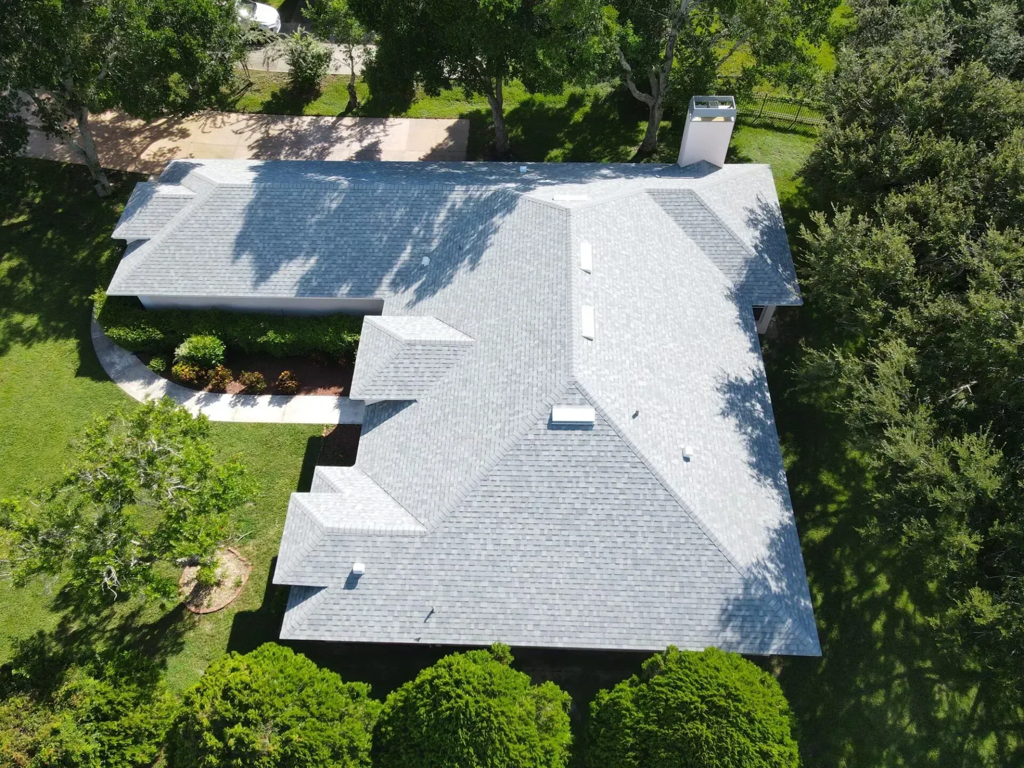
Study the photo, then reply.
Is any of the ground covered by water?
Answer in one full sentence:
No, there is no water in the image.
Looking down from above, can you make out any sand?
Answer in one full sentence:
No, no sand is visible.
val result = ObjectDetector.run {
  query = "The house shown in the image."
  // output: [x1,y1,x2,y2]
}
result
[105,99,822,665]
